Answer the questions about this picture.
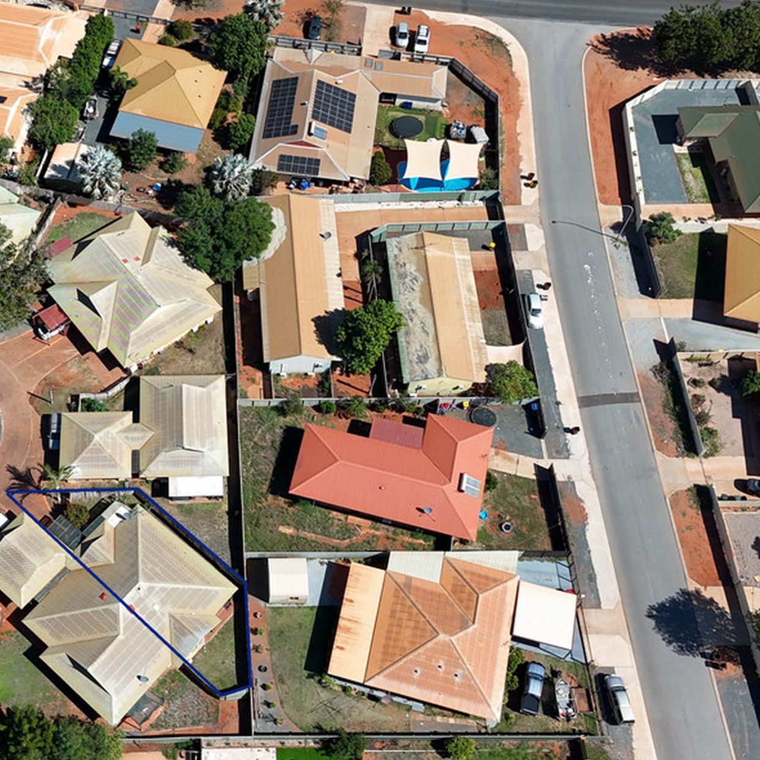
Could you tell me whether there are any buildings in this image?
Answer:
Yes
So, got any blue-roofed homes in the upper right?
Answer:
No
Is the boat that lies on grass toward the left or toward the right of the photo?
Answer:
right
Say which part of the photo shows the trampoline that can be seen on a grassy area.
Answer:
top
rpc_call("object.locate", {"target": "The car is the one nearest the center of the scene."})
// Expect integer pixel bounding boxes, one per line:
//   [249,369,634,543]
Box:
[523,292,545,327]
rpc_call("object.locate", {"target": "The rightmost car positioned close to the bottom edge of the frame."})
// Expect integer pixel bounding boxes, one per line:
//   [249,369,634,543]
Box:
[603,669,639,727]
